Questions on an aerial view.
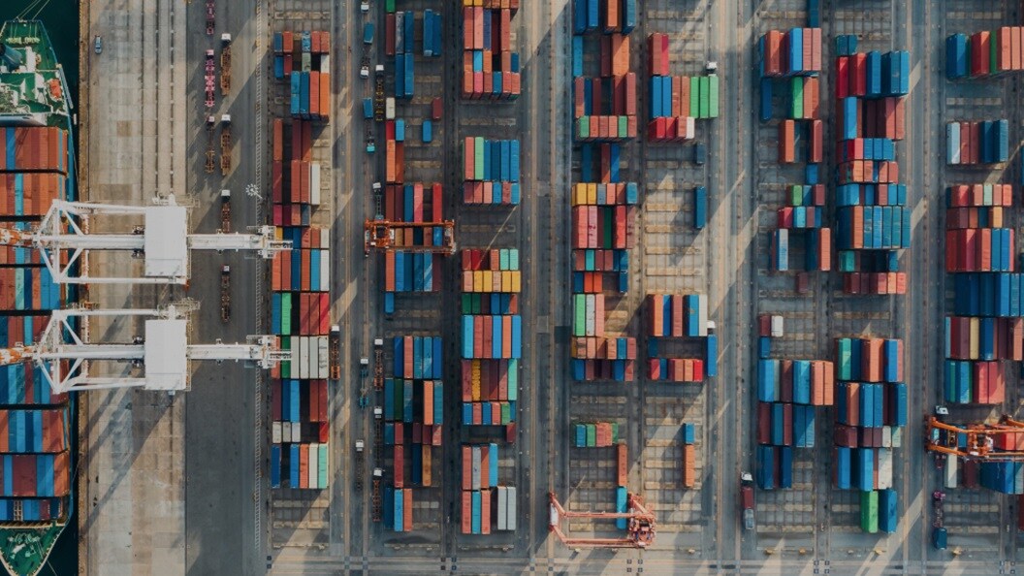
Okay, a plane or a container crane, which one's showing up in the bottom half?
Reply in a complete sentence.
There is a container crane in the bottom half.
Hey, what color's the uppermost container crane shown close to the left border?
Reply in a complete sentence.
In this view, the uppermost container crane shown close to the left border is white.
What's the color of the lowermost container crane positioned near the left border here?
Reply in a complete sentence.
In this view, the lowermost container crane positioned near the left border is white.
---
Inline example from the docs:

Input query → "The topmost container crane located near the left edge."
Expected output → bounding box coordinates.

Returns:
[0,185,293,293]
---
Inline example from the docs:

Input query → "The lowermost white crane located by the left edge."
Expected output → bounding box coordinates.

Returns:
[0,294,293,396]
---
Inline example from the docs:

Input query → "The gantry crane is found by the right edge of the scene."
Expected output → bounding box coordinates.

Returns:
[928,412,1024,460]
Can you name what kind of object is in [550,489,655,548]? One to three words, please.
container crane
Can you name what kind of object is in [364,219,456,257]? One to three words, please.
container crane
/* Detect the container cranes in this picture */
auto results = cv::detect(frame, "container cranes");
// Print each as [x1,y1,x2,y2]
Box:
[0,185,293,293]
[364,219,456,257]
[928,412,1024,460]
[0,294,293,396]
[550,489,655,548]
